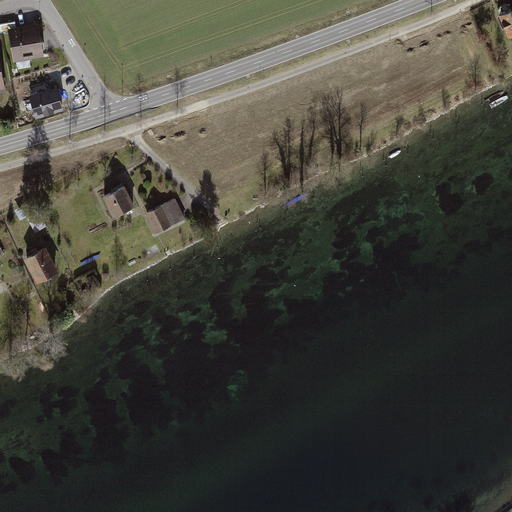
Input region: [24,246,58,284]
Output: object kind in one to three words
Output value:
house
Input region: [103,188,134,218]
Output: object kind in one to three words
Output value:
house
